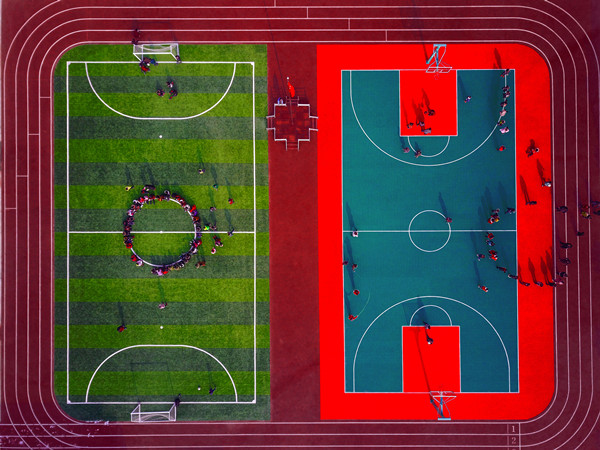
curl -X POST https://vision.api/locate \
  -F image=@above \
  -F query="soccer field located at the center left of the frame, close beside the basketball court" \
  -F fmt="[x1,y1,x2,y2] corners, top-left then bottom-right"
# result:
[54,44,271,420]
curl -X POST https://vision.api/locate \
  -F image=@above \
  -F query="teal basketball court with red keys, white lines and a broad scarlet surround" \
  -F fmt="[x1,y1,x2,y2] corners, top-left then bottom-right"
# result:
[317,43,555,420]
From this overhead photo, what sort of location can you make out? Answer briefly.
sports ground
